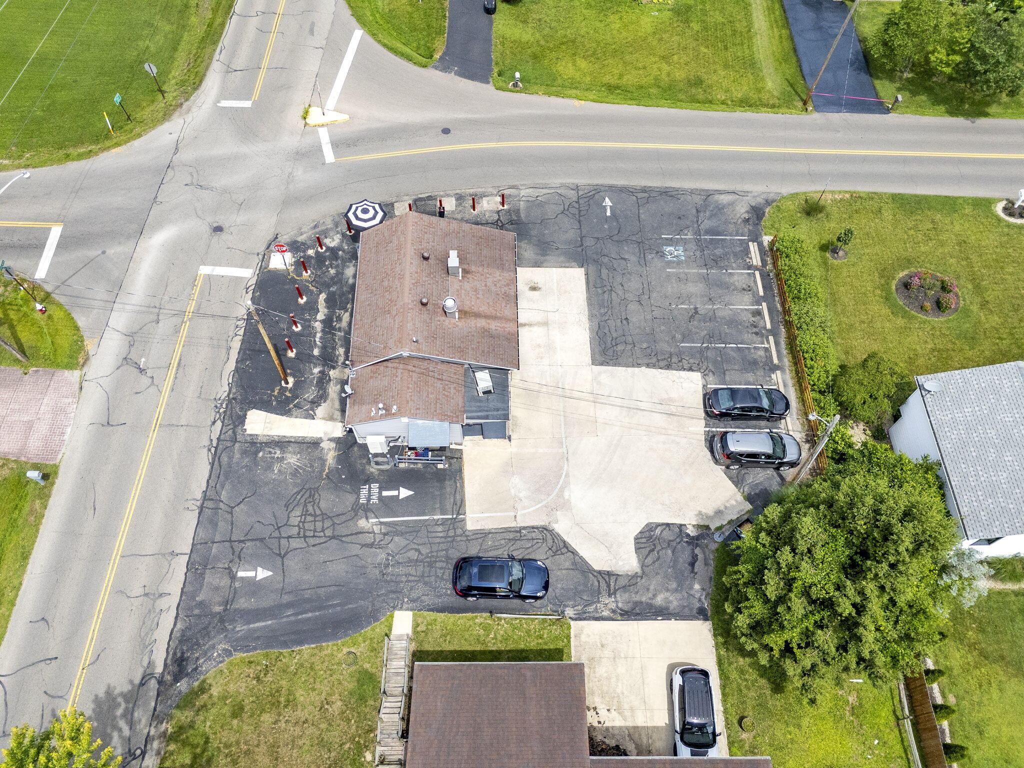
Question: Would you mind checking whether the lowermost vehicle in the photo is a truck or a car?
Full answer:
The lowermost vehicle in the image is a car.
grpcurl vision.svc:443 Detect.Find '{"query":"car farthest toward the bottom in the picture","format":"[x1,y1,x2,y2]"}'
[669,666,729,754]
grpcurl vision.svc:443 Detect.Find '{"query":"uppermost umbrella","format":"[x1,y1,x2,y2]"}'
[345,201,388,232]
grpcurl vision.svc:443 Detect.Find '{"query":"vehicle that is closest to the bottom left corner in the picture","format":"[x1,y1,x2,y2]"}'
[453,554,549,604]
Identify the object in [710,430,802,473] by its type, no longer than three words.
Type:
car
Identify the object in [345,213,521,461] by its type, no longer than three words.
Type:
building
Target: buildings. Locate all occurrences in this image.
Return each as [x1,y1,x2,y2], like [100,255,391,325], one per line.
[888,359,1024,558]
[345,213,521,461]
[406,659,773,768]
